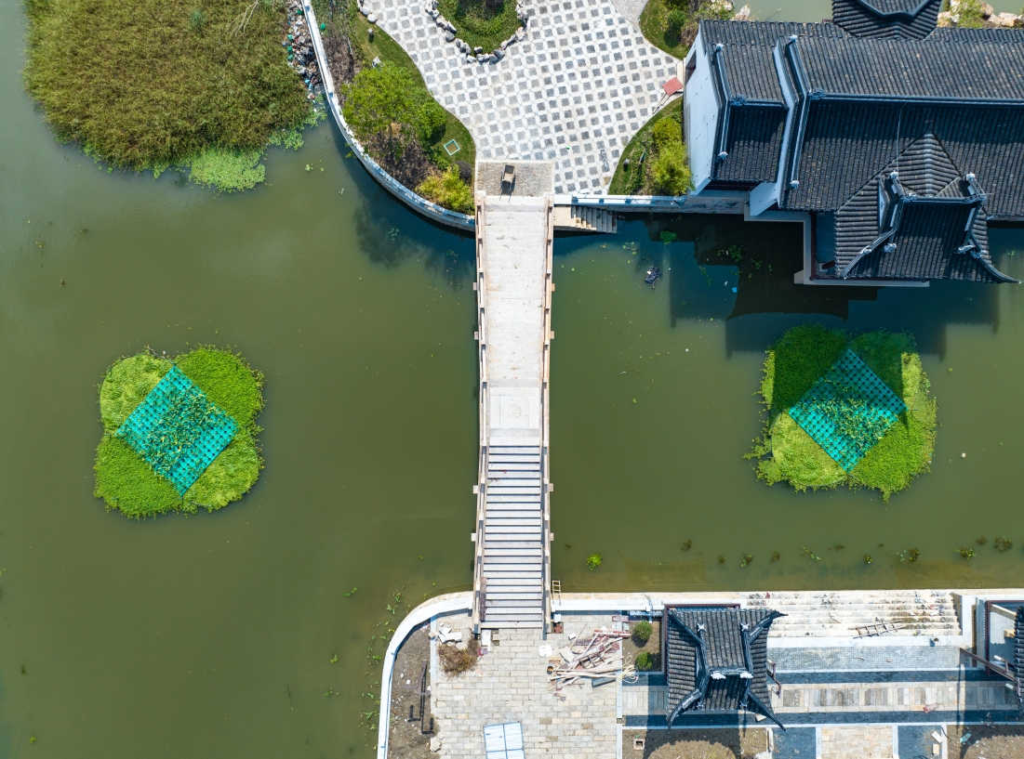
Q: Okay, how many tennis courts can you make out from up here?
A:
none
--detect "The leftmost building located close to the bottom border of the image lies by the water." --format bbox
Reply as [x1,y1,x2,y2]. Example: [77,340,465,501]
[661,598,789,734]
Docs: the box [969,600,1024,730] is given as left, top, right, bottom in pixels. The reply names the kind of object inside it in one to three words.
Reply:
building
